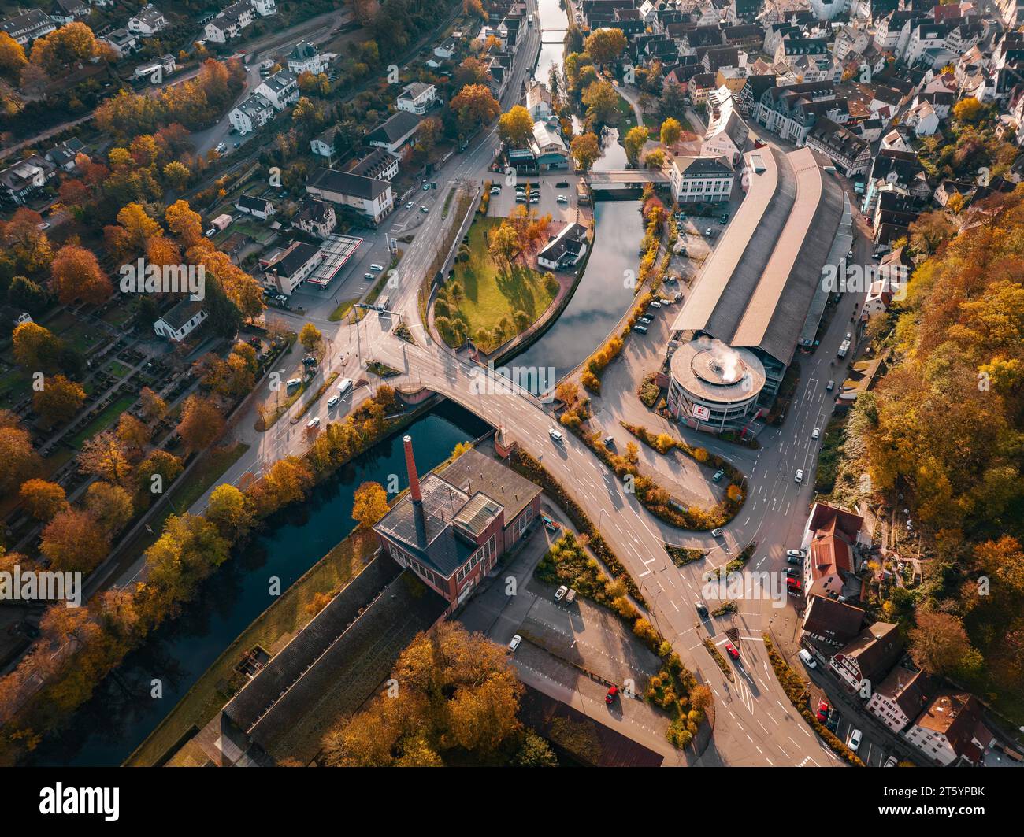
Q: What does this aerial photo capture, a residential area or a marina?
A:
residential area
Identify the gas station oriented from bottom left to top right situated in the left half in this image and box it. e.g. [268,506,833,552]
[302,234,361,291]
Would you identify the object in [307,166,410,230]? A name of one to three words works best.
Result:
house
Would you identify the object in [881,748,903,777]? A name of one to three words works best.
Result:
car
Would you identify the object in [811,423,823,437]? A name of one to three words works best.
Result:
vehicle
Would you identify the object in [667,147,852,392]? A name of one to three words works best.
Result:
building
